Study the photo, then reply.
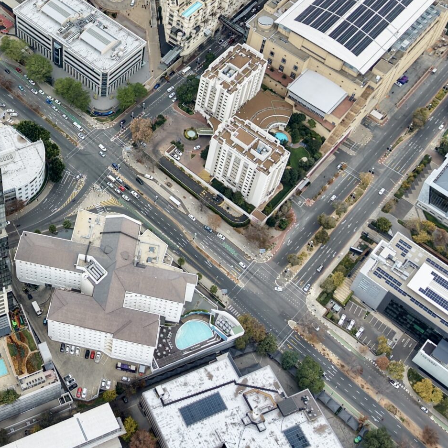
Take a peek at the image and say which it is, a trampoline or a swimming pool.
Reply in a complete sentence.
There is a swimming pool in the scene.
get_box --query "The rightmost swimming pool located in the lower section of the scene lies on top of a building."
[176,320,214,349]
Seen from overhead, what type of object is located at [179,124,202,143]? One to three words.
fountain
